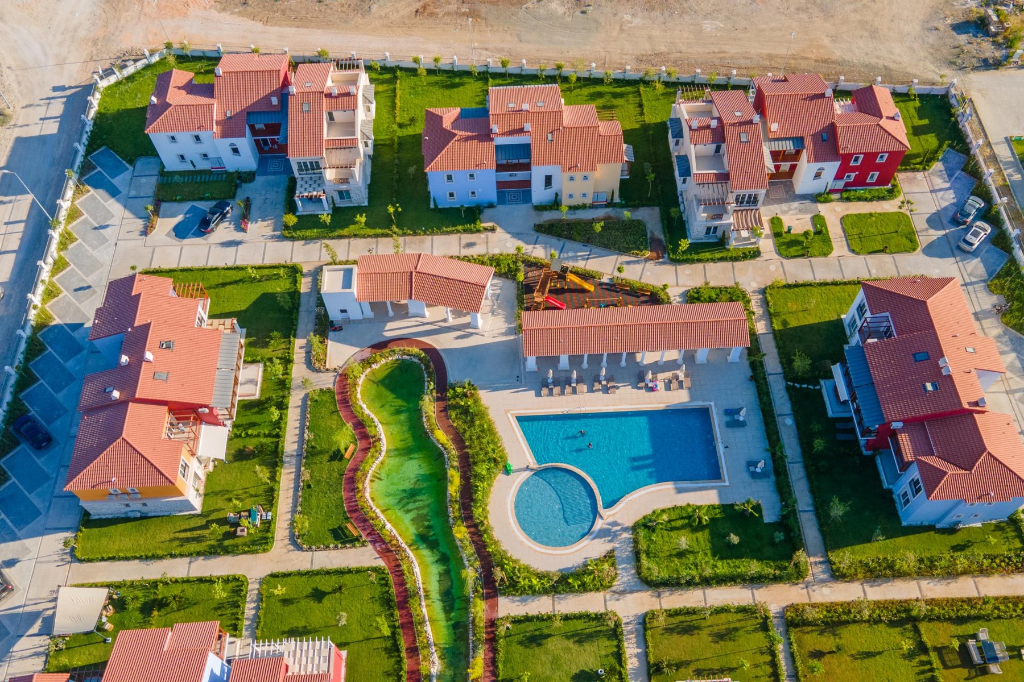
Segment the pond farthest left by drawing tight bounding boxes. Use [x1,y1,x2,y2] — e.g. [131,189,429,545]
[360,360,471,682]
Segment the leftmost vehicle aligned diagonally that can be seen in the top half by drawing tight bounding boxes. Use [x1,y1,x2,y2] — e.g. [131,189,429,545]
[194,198,236,234]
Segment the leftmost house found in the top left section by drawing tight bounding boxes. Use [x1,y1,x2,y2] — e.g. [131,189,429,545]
[144,54,385,215]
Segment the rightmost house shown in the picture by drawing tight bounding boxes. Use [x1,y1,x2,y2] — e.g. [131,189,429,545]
[817,276,1024,529]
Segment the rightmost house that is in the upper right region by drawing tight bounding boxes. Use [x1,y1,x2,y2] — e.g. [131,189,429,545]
[659,70,913,242]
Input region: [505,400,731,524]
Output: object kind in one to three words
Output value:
swimming pool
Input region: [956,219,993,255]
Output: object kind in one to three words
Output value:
car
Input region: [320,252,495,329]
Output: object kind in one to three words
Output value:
building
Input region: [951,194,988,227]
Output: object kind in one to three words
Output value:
car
